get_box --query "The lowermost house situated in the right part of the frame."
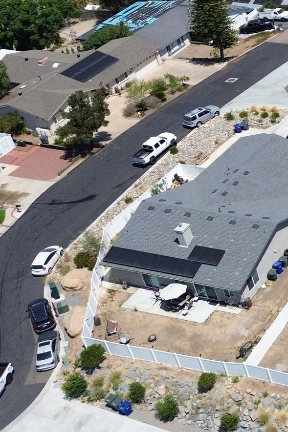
[99,130,288,311]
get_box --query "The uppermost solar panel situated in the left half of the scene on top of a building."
[65,54,116,79]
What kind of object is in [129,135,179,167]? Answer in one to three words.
vehicle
